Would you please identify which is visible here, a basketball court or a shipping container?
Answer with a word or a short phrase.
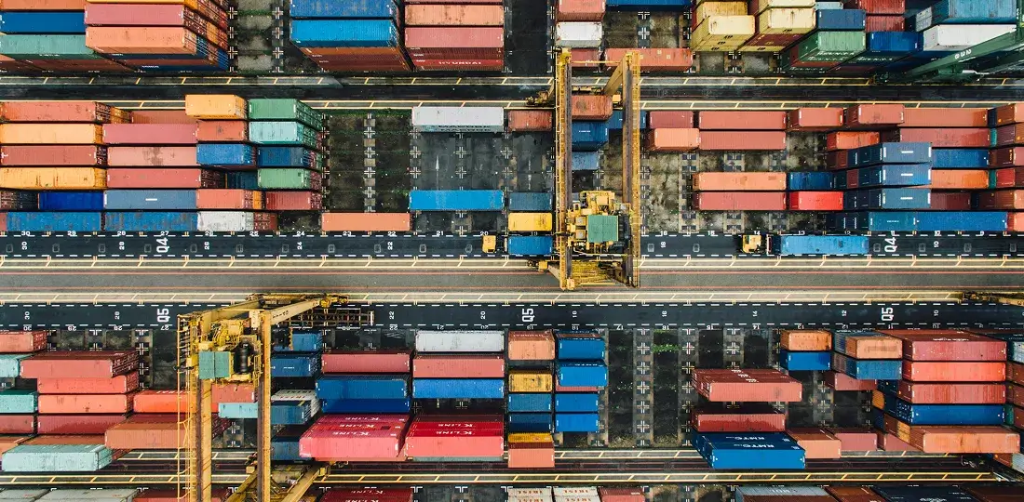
shipping container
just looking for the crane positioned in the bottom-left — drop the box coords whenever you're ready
[175,294,340,502]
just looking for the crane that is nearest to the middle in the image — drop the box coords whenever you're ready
[520,49,643,289]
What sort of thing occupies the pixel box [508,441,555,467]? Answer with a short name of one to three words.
shipping container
